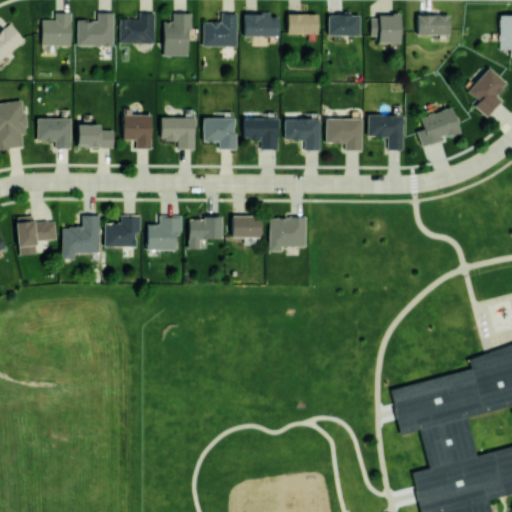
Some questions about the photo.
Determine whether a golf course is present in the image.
No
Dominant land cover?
grass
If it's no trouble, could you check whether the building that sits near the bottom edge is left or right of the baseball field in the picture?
to the right of it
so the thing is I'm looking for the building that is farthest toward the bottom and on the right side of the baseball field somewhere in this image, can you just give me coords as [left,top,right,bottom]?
[392,342,512,512]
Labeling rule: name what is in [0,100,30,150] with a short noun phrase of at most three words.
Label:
house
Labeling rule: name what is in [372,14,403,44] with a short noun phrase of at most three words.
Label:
house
